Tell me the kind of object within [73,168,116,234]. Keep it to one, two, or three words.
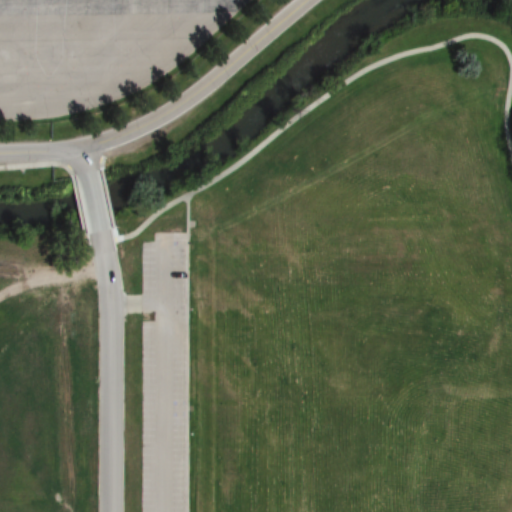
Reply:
bridge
